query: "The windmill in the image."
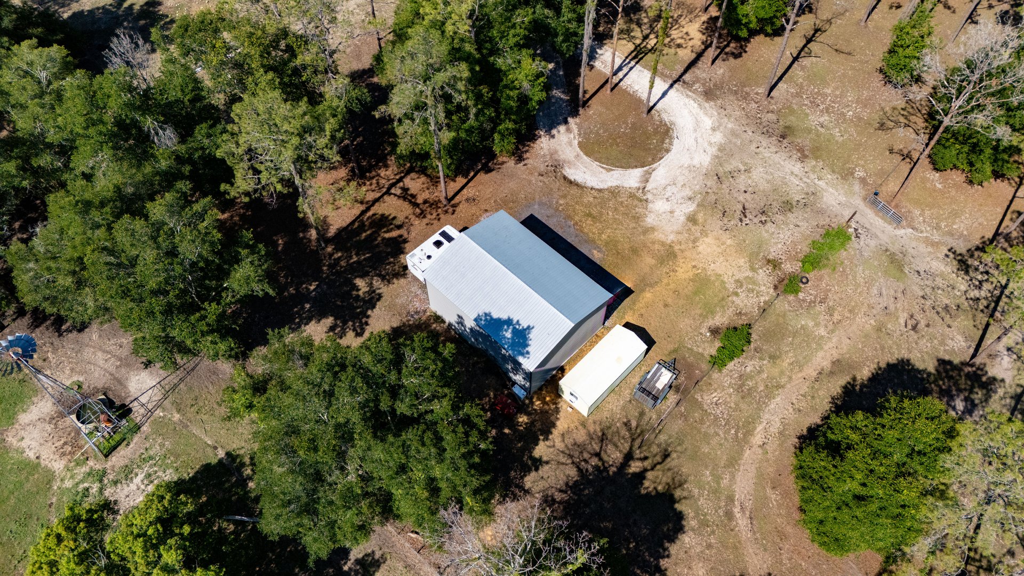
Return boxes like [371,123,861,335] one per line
[0,331,134,455]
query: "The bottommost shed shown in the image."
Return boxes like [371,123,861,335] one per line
[560,325,648,417]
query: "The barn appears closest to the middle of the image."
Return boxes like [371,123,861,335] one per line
[421,216,616,398]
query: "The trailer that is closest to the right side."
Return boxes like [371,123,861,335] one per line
[635,358,681,408]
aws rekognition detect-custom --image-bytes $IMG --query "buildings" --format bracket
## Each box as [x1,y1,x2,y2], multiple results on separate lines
[421,216,616,398]
[560,325,648,417]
